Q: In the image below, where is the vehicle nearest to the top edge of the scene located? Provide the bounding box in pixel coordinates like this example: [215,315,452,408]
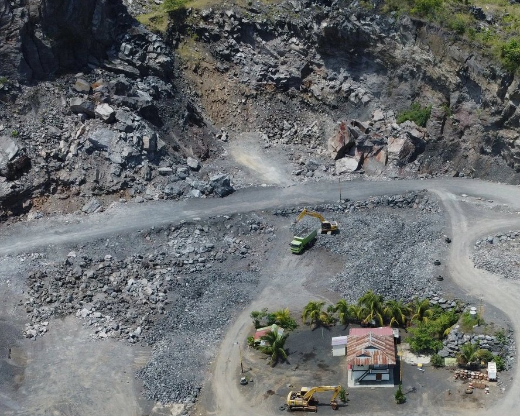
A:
[294,204,340,233]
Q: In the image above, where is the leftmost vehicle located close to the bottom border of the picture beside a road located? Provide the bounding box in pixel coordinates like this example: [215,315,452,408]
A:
[285,382,341,415]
